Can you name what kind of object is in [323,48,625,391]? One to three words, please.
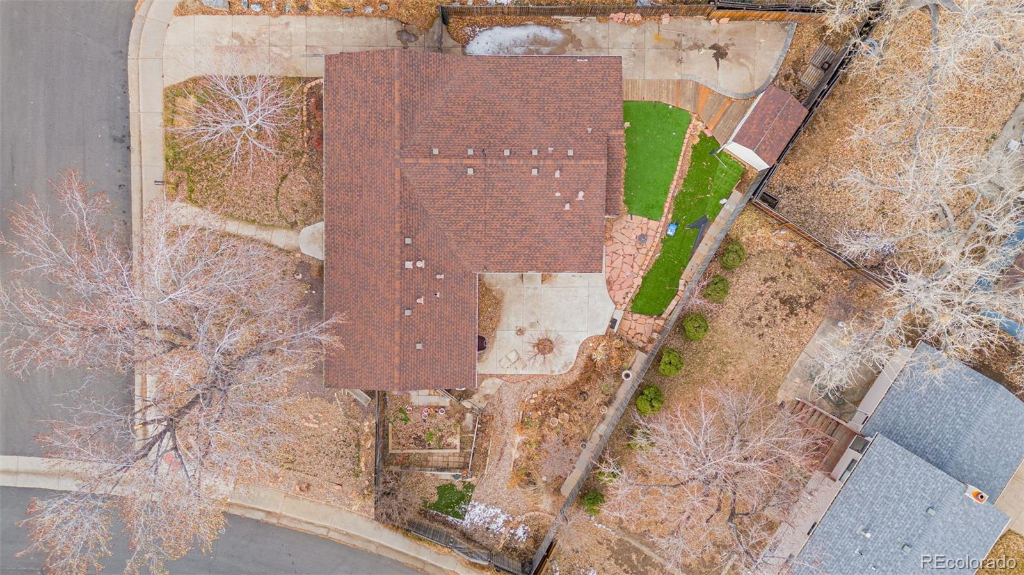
house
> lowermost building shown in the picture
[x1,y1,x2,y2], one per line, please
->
[771,340,1024,575]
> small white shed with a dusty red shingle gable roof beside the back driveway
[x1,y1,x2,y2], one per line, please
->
[721,85,808,173]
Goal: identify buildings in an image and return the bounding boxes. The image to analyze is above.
[721,85,808,173]
[323,48,625,391]
[771,340,1024,575]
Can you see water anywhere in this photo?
No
